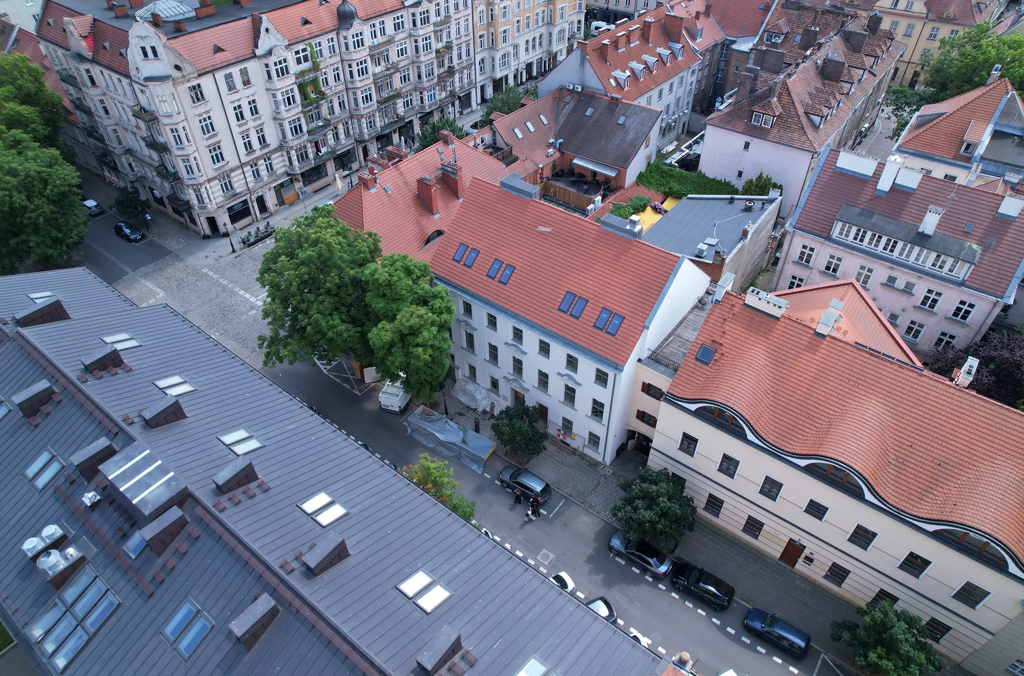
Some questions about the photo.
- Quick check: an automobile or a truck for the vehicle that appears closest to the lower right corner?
automobile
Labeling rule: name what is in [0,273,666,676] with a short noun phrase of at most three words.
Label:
building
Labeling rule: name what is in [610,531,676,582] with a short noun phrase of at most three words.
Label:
car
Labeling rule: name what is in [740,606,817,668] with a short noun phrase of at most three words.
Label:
car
